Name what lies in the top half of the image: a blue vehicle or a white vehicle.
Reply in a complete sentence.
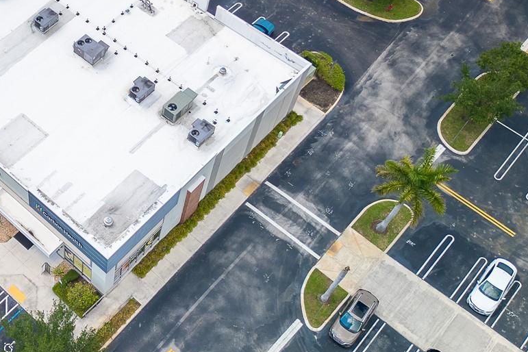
The one visible in the top half of the image is a blue vehicle.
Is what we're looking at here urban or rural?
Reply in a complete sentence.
From above, the setting appears urban.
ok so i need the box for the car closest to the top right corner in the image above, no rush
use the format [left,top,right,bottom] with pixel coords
[254,17,283,40]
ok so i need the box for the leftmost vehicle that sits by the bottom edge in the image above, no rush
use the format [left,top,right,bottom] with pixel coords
[326,291,381,350]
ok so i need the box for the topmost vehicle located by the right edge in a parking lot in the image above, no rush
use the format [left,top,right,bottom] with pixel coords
[467,258,519,315]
